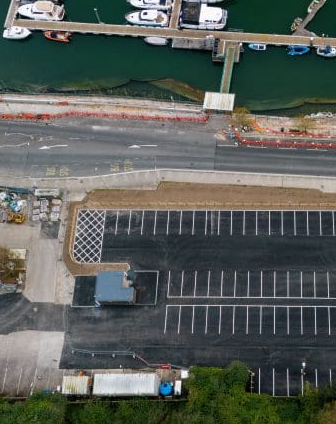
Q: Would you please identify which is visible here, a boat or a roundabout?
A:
boat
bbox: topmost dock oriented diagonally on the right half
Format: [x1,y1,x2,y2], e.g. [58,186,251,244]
[292,0,326,37]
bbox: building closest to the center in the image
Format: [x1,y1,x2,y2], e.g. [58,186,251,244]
[95,271,137,301]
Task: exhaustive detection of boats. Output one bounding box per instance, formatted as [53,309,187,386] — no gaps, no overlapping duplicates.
[43,31,72,43]
[15,1,67,21]
[292,16,304,31]
[128,0,172,9]
[181,1,228,28]
[308,0,320,13]
[315,46,336,57]
[143,35,167,43]
[248,43,267,51]
[0,27,32,39]
[123,9,170,26]
[287,45,311,56]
